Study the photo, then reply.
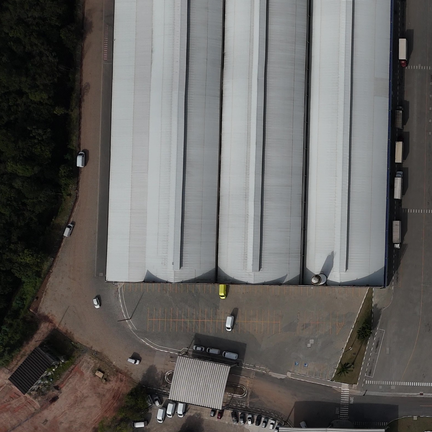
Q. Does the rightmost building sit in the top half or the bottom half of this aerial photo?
top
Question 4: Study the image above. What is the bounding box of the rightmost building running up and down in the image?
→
[302,0,394,287]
